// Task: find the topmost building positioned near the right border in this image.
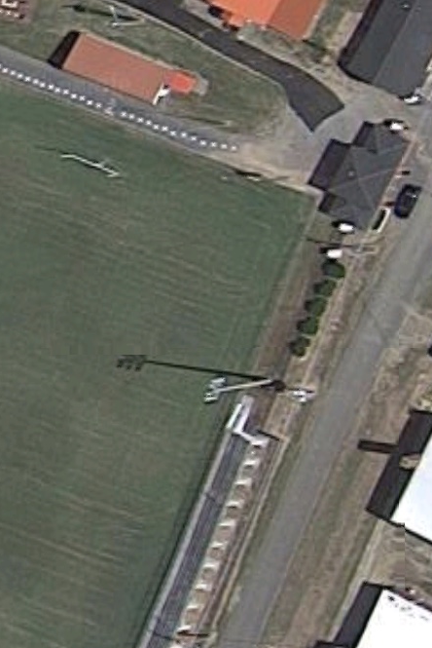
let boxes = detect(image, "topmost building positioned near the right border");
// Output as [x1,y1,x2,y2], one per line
[347,0,432,95]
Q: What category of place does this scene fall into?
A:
sports ground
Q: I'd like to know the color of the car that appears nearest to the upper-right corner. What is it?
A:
black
